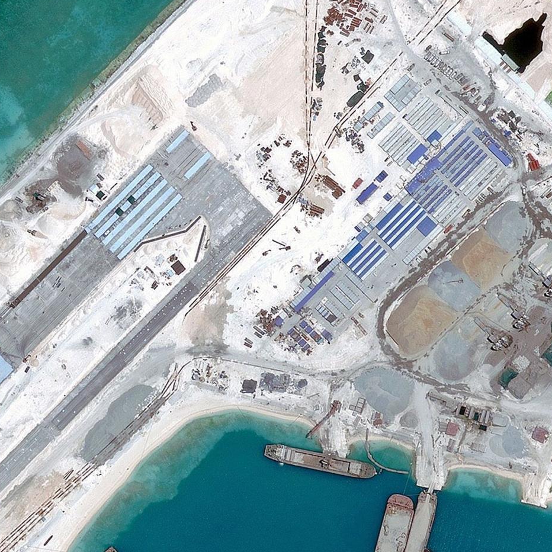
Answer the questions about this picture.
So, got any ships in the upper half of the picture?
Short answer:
No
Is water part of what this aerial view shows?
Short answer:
Yes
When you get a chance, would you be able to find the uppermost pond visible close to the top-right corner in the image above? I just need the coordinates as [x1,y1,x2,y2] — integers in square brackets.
[482,13,547,72]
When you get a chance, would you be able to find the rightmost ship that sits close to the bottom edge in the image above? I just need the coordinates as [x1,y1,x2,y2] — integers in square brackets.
[406,482,437,552]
